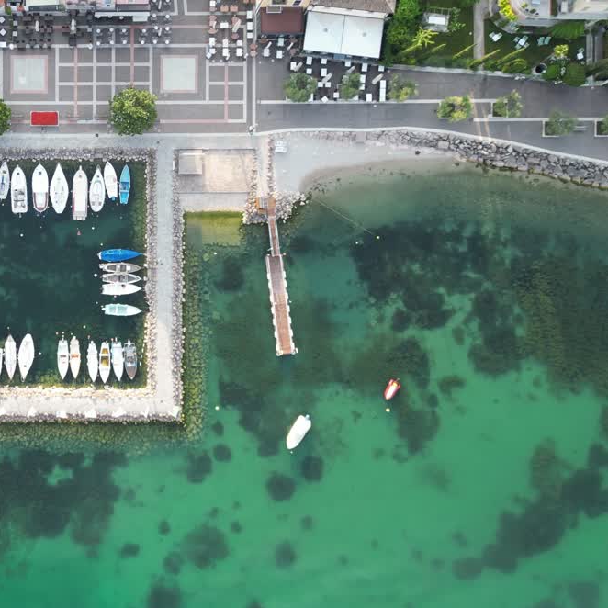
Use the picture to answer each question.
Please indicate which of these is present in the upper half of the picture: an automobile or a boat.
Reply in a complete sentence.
The one visible in the upper half of the picture is a boat.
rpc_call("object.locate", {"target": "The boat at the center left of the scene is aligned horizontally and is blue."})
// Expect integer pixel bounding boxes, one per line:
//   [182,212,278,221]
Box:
[96,249,149,262]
